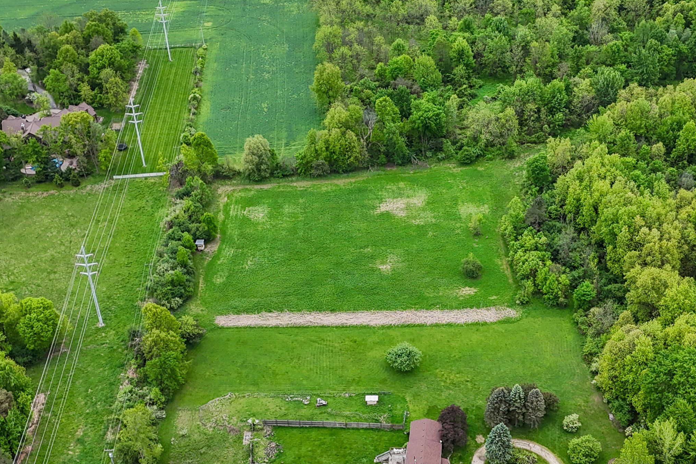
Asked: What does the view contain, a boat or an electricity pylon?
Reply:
electricity pylon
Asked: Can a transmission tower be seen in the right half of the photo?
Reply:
No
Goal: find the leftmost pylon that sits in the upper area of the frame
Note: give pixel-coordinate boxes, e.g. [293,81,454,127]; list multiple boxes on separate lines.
[126,97,148,167]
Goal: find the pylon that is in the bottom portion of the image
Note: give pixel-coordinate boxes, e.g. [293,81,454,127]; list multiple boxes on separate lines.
[75,246,104,327]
